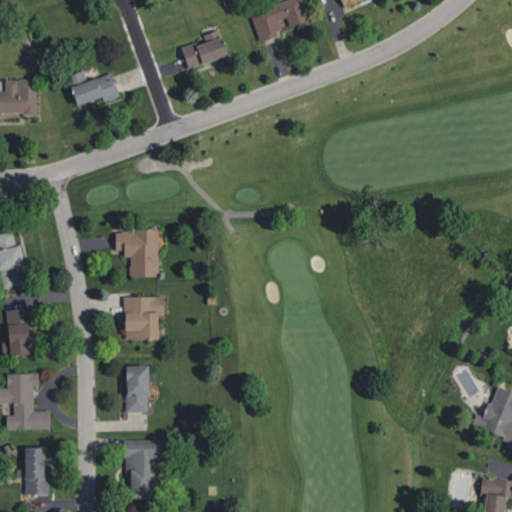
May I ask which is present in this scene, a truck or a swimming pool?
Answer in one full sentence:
I can see a swimming pool in this picture.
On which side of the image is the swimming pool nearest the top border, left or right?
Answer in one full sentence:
The swimming pool nearest the top border is on the right side of the image.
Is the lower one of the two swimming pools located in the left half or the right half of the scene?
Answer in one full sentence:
The lower one of the two swimming pools sits on the right side.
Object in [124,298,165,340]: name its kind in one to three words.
house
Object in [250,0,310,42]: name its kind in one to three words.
house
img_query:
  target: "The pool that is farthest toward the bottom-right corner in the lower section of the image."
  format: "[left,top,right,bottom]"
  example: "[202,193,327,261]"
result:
[448,468,477,505]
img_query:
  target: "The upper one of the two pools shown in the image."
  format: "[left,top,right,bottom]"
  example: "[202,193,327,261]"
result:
[453,365,490,413]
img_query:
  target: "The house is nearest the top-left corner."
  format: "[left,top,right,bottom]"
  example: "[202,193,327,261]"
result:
[0,80,38,115]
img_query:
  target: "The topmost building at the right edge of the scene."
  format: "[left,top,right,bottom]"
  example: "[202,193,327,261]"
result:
[472,383,512,440]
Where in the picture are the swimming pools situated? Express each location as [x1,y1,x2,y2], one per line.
[453,365,490,413]
[448,468,477,505]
